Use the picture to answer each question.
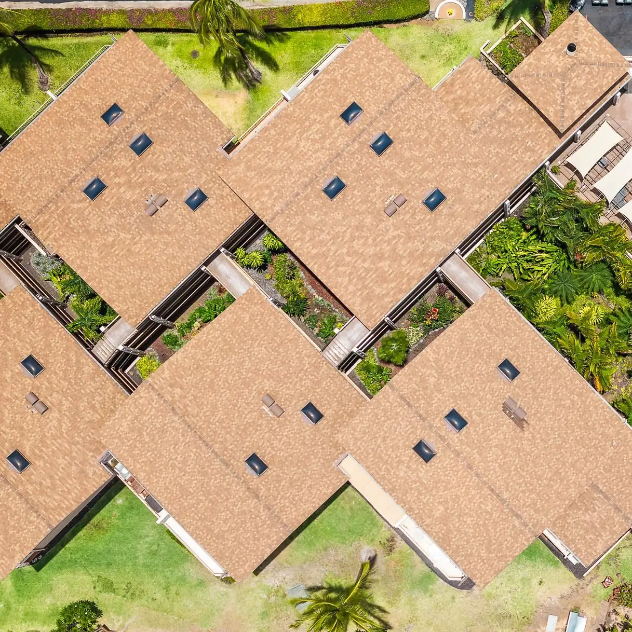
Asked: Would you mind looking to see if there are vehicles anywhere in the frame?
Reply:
No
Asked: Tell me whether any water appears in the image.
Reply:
No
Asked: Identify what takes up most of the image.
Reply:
buildings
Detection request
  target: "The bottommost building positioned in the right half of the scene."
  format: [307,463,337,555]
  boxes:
[332,286,632,589]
